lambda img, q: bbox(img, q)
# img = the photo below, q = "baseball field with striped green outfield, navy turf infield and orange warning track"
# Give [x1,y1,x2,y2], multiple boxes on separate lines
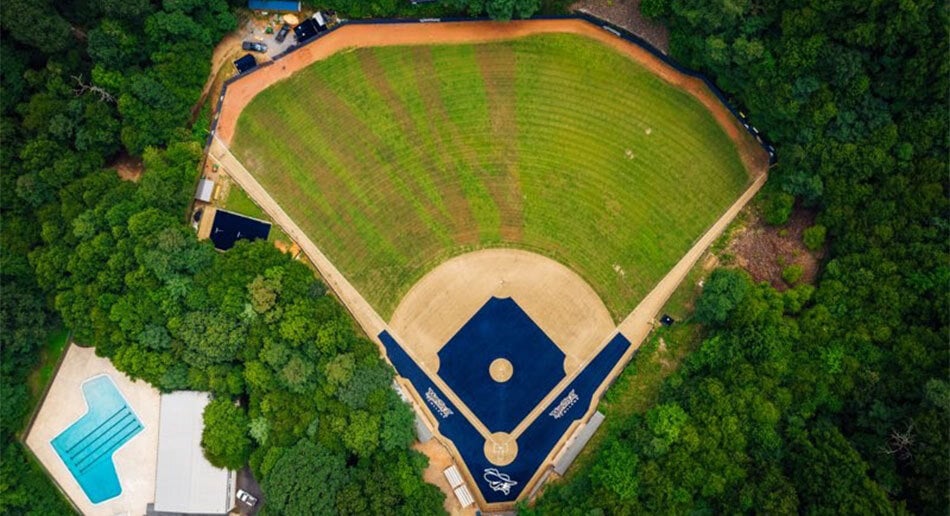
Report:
[209,19,770,510]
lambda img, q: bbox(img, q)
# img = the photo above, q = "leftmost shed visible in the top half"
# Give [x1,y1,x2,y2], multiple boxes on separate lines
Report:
[196,180,217,202]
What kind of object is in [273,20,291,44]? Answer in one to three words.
vehicle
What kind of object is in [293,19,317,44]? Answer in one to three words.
shed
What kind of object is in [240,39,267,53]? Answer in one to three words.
vehicle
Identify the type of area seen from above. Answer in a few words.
sports ground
